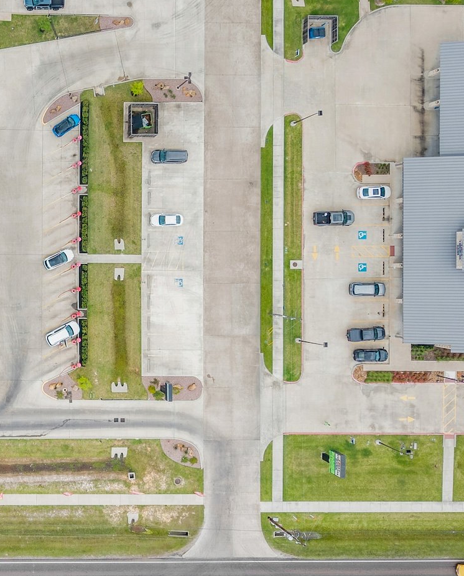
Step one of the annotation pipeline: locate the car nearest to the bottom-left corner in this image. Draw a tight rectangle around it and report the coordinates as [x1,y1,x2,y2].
[45,321,80,346]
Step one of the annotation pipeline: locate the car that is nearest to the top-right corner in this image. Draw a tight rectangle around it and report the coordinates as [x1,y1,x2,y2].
[356,183,391,199]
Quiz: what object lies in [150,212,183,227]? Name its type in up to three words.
car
